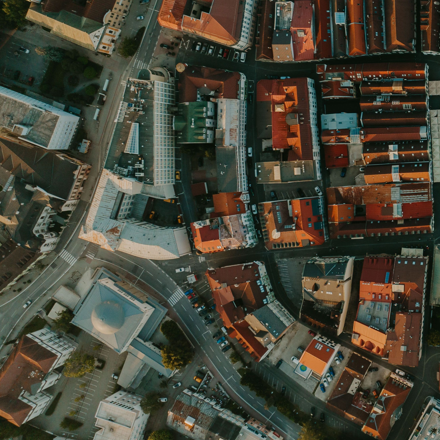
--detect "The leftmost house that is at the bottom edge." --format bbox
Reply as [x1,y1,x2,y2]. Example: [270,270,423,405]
[0,329,76,427]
